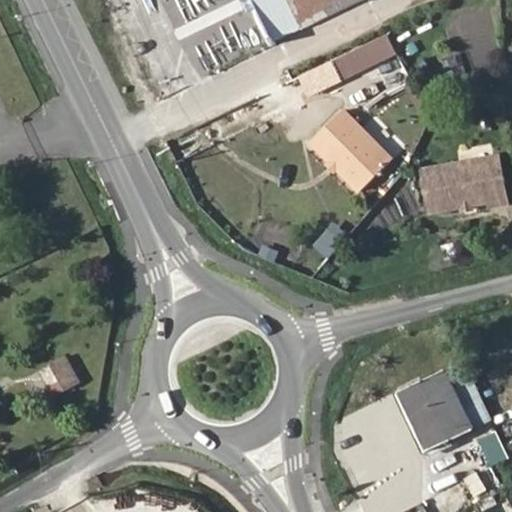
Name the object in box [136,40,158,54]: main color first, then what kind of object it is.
gray car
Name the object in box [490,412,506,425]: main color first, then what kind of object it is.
white vehicle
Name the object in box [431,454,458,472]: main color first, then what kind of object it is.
white vehicle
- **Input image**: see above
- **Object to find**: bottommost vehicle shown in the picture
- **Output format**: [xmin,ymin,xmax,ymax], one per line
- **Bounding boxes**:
[429,474,458,494]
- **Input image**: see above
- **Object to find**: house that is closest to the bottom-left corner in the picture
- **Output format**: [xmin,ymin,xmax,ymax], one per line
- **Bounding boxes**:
[49,356,80,391]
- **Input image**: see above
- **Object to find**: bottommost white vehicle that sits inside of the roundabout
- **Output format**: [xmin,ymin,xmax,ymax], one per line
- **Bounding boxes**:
[194,430,217,448]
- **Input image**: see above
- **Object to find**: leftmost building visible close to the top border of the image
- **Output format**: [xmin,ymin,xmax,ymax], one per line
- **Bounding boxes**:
[252,0,302,38]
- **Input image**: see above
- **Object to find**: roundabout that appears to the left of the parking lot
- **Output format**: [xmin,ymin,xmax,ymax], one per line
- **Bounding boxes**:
[120,244,334,491]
